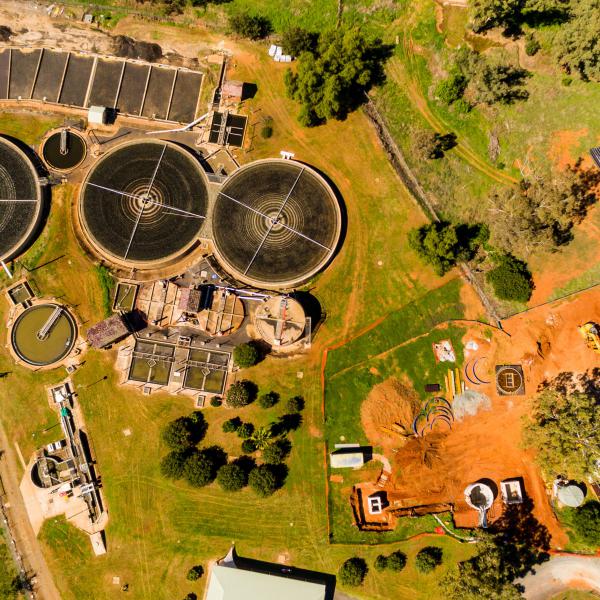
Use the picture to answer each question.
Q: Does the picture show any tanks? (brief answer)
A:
Yes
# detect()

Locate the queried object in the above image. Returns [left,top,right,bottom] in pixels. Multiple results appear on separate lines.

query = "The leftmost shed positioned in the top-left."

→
[88,105,107,125]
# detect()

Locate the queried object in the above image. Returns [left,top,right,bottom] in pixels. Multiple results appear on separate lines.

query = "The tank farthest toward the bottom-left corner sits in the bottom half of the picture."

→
[32,457,62,487]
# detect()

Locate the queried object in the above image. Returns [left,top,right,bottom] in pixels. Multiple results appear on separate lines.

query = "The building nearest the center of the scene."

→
[179,287,202,312]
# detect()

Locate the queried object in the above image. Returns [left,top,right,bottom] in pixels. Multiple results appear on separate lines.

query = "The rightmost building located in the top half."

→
[221,80,243,101]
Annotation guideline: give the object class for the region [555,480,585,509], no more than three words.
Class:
water tank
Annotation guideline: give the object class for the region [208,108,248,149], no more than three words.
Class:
storage tank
